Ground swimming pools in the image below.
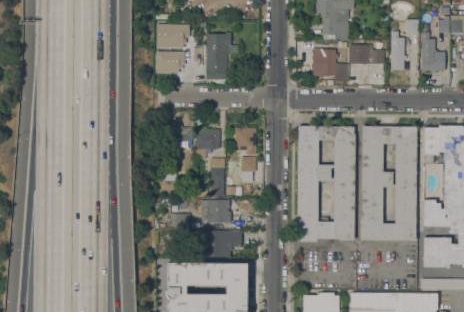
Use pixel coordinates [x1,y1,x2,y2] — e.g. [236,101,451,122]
[422,13,433,24]
[428,174,438,192]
